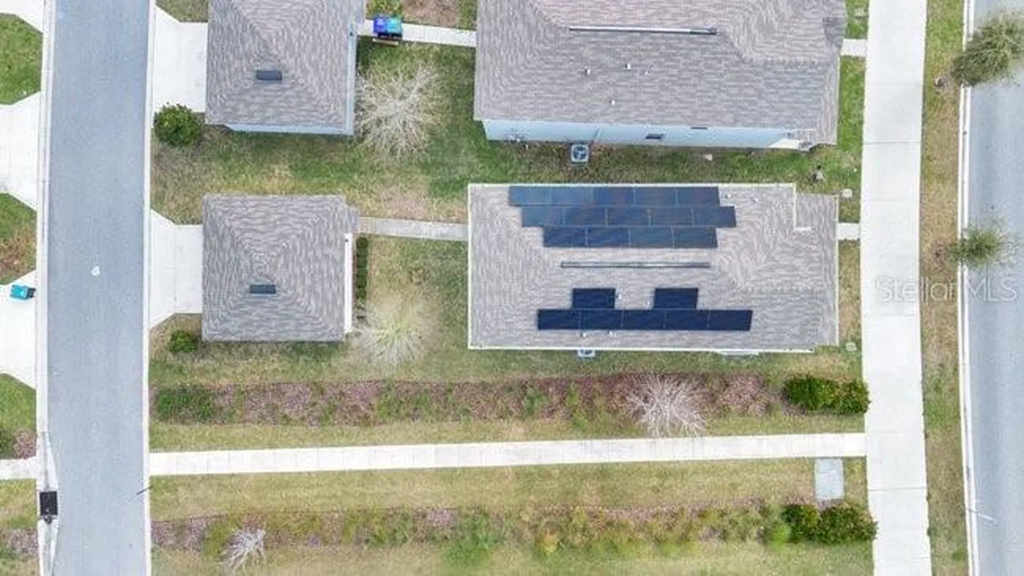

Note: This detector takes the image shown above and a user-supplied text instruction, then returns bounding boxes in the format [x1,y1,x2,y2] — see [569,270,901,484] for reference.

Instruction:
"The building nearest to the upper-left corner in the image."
[206,0,369,133]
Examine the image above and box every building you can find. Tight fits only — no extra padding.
[474,0,860,153]
[466,182,840,356]
[202,193,360,342]
[206,0,369,133]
